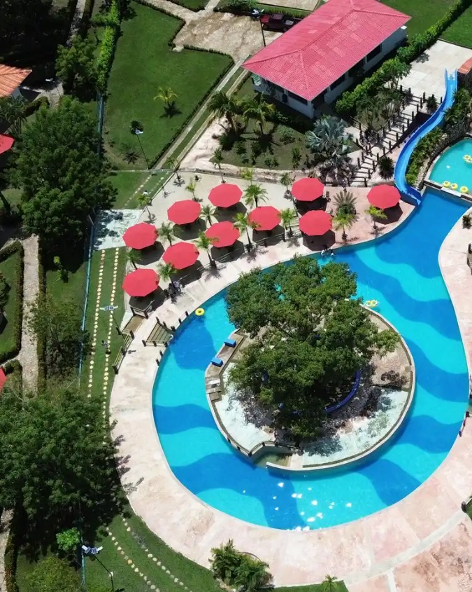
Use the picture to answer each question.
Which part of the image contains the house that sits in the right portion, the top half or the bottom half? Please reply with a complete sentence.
The top half of the photo is where the house that sits in the right portion is.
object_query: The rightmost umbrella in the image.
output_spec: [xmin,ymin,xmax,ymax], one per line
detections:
[367,185,401,210]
